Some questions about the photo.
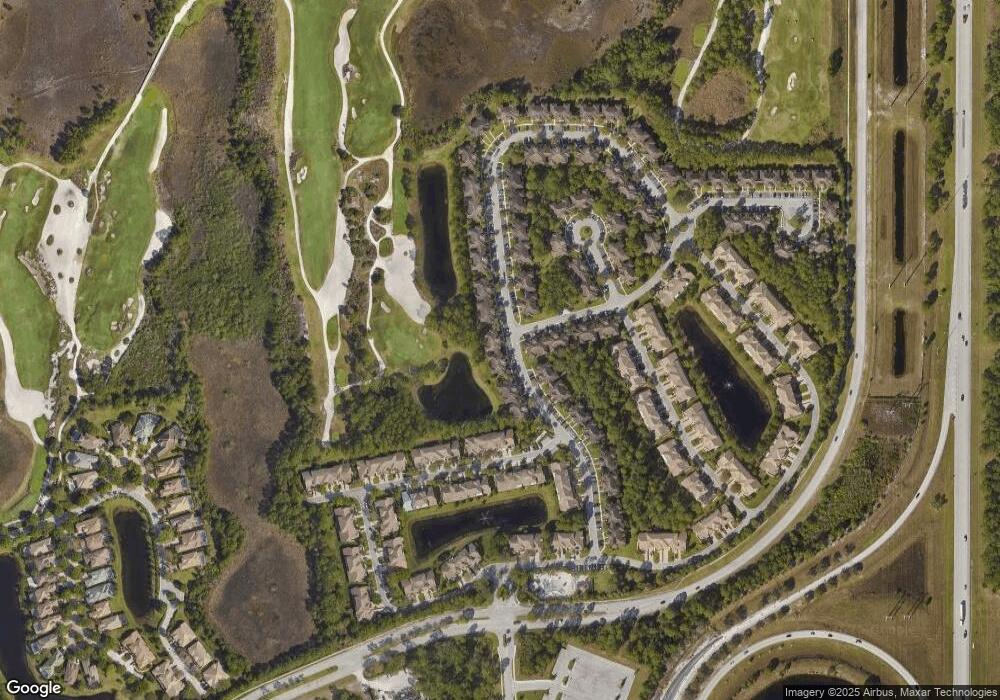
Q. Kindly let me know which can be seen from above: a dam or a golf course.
golf course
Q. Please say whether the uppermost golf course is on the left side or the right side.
right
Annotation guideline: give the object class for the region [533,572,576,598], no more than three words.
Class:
swimming pool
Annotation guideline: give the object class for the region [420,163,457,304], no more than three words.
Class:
pond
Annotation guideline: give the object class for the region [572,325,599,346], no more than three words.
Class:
house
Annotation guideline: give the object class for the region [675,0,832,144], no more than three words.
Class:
golf course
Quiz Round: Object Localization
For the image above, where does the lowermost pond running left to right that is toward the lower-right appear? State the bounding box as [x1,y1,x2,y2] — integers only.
[757,674,867,700]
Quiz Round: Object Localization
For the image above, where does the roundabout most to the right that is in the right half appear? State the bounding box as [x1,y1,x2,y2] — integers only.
[779,197,814,237]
